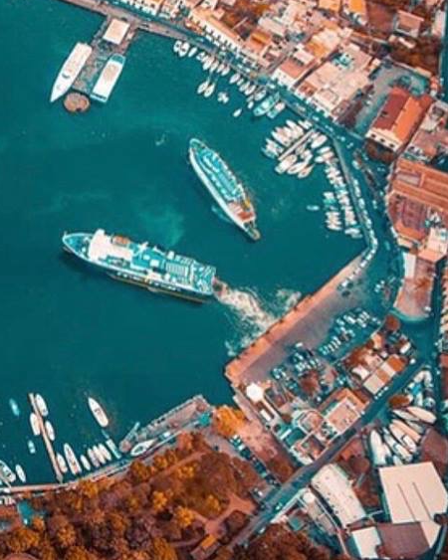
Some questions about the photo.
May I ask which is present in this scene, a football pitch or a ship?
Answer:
ship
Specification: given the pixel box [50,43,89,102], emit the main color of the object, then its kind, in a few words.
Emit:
white ship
